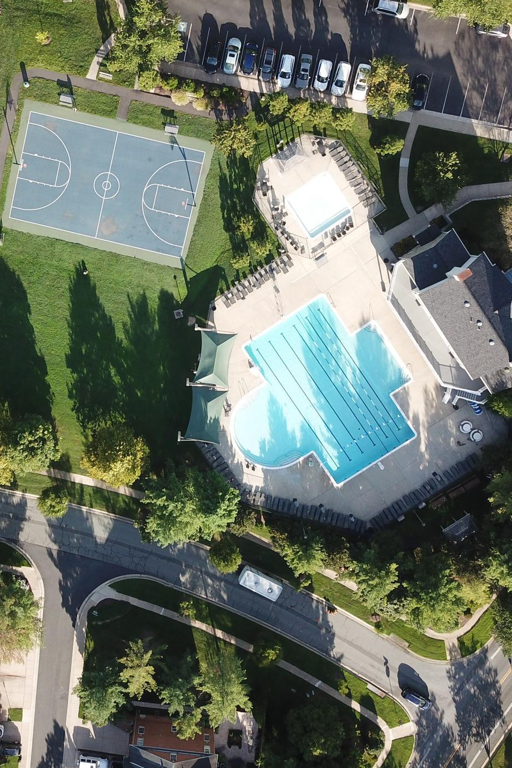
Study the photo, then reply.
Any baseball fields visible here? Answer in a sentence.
No, the photo shows no baseball field.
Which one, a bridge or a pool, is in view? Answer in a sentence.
Of the two, only a pool appears.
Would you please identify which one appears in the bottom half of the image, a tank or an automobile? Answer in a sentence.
There is an automobile in the bottom half of the image.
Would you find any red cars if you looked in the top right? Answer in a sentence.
No, I see no red car in the top right.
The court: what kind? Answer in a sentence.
The court is a basketball court.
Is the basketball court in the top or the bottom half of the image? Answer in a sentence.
The basketball court sits in the top half of the picture.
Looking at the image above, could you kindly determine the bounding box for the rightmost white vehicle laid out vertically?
[351,63,371,101]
